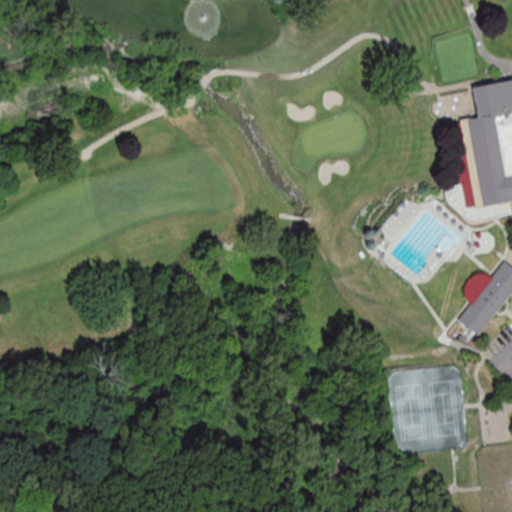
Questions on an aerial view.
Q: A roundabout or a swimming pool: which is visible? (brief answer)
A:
swimming pool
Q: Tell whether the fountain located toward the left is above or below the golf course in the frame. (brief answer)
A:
above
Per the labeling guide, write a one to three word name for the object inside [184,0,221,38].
fountain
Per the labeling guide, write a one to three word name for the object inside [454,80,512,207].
building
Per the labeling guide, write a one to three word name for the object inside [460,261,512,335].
building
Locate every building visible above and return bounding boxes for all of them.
[460,261,512,335]
[454,80,512,207]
